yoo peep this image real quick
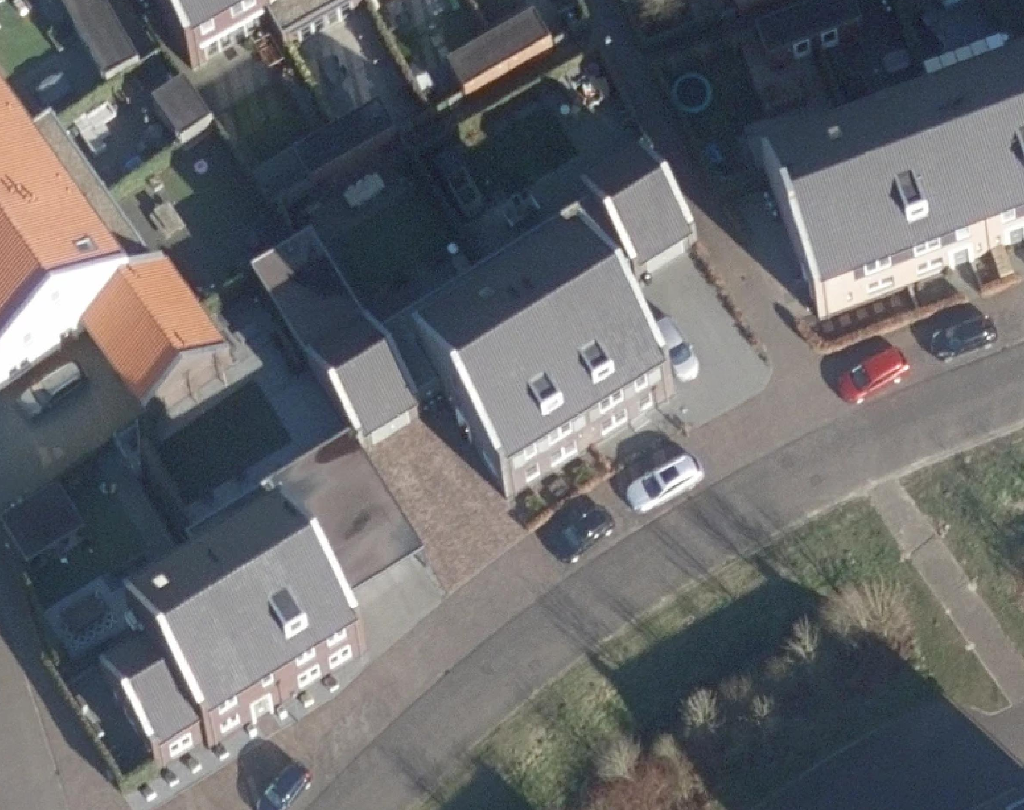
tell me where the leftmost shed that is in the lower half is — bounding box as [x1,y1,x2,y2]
[3,484,83,572]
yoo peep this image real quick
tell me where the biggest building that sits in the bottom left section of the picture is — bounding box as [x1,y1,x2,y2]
[121,483,367,751]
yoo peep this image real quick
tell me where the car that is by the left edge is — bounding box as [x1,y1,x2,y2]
[16,356,92,421]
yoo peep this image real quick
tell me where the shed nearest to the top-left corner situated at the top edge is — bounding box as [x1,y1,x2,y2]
[66,0,139,85]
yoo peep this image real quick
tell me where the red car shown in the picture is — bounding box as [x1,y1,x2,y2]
[838,350,910,407]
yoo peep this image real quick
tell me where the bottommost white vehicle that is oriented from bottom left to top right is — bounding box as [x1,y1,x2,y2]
[627,452,707,518]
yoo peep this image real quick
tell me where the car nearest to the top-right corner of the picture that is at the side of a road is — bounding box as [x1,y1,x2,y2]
[926,309,1004,365]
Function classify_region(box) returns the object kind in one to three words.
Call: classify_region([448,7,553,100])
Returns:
shed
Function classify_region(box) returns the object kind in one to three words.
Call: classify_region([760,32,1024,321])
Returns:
house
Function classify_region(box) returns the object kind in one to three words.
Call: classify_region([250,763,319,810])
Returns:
car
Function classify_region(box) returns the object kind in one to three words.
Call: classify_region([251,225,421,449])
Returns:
building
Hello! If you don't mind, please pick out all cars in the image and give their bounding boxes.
[250,763,319,810]
[545,502,618,565]
[652,312,698,386]
[16,356,92,421]
[838,350,910,407]
[627,452,707,518]
[926,309,1004,365]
